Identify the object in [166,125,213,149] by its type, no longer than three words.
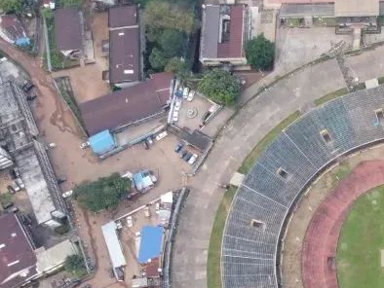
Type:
building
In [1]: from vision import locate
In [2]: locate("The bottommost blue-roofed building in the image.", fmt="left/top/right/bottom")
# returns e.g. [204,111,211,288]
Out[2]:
[138,225,165,262]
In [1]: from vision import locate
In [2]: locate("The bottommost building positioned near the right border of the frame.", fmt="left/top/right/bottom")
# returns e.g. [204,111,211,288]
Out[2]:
[335,17,379,31]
